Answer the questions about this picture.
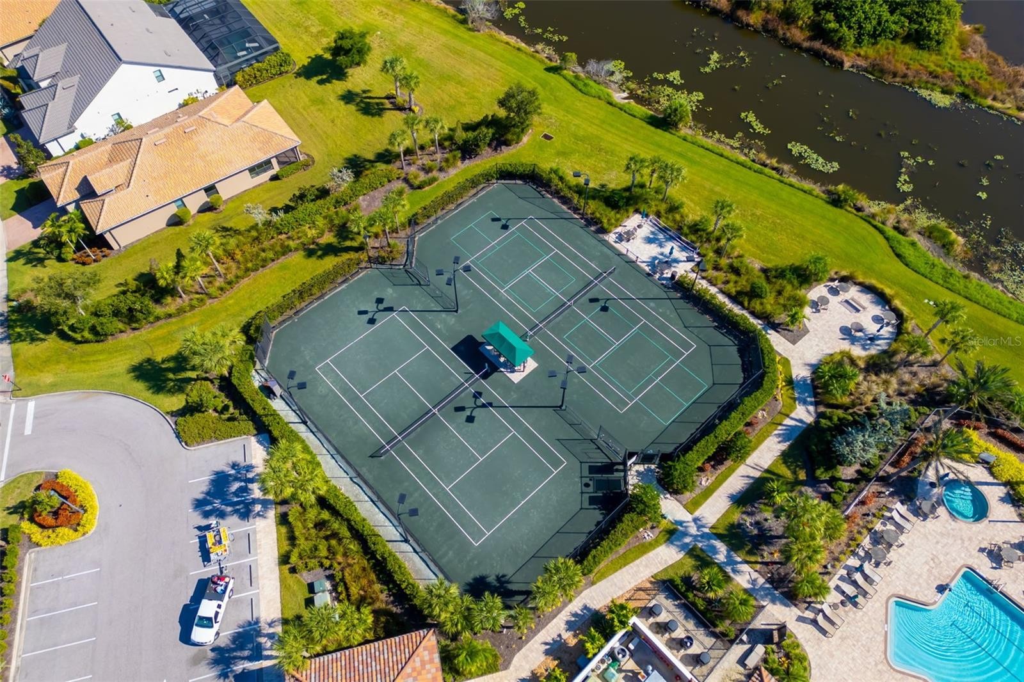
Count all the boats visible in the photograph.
0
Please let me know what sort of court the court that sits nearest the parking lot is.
tennis court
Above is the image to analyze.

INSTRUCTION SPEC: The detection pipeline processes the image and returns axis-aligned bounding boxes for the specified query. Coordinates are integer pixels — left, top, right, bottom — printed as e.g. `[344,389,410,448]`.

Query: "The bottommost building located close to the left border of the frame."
[38,85,303,246]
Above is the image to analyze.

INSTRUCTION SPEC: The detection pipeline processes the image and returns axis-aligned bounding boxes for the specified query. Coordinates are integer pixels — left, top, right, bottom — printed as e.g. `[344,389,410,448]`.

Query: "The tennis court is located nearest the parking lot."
[266,268,627,605]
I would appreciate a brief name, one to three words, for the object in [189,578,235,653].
truck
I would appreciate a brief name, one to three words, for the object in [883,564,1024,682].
swimming pool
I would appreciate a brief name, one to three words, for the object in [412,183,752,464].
tennis court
